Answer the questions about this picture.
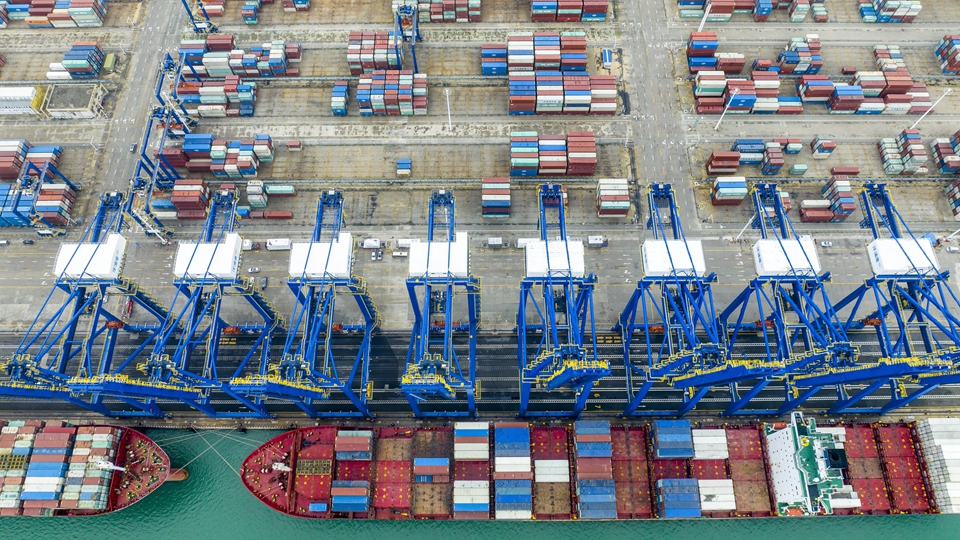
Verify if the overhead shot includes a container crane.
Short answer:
Yes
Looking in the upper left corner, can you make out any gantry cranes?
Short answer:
Yes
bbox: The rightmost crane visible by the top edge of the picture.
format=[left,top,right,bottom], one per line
[393,3,423,72]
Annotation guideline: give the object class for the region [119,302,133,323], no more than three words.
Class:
vehicle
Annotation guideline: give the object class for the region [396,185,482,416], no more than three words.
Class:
container crane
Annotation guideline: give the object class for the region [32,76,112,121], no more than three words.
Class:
building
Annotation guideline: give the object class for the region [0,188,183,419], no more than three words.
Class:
container crane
